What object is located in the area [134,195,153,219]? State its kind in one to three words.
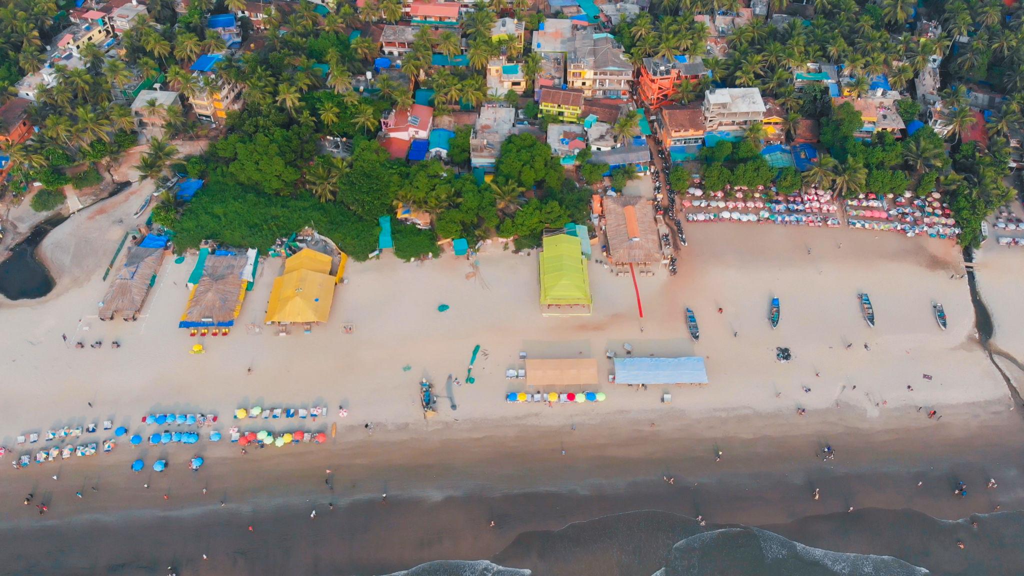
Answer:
boat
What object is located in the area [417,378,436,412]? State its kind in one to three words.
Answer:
boat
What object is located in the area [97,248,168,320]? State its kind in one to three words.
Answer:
shed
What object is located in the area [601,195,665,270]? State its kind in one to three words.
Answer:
building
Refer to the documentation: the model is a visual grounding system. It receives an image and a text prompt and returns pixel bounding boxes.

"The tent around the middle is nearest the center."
[539,235,593,316]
